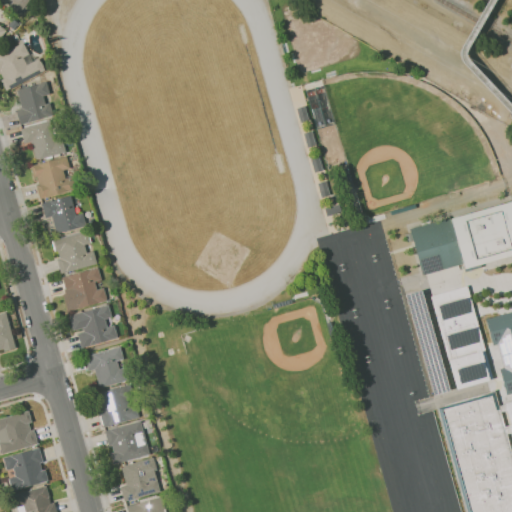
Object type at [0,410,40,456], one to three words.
house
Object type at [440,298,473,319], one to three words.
solar panel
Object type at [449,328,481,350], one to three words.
solar panel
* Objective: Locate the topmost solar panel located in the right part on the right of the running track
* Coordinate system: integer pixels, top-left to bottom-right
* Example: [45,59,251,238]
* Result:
[422,252,445,272]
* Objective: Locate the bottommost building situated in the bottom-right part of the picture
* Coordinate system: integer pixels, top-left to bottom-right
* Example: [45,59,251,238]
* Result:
[437,390,512,512]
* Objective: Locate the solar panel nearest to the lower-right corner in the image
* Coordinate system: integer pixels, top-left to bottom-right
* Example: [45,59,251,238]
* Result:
[460,364,488,384]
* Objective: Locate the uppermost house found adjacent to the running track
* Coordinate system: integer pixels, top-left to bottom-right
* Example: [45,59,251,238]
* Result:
[0,50,46,89]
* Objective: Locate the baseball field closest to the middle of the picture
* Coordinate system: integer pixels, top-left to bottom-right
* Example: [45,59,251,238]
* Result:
[195,232,251,287]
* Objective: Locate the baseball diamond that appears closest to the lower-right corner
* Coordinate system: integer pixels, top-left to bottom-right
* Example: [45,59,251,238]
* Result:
[188,299,358,443]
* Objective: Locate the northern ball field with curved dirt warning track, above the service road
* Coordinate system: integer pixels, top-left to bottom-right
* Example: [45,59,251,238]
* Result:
[326,72,506,216]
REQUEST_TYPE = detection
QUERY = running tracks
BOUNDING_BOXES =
[65,0,322,316]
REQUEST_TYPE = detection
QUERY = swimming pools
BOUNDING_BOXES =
[30,34,42,54]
